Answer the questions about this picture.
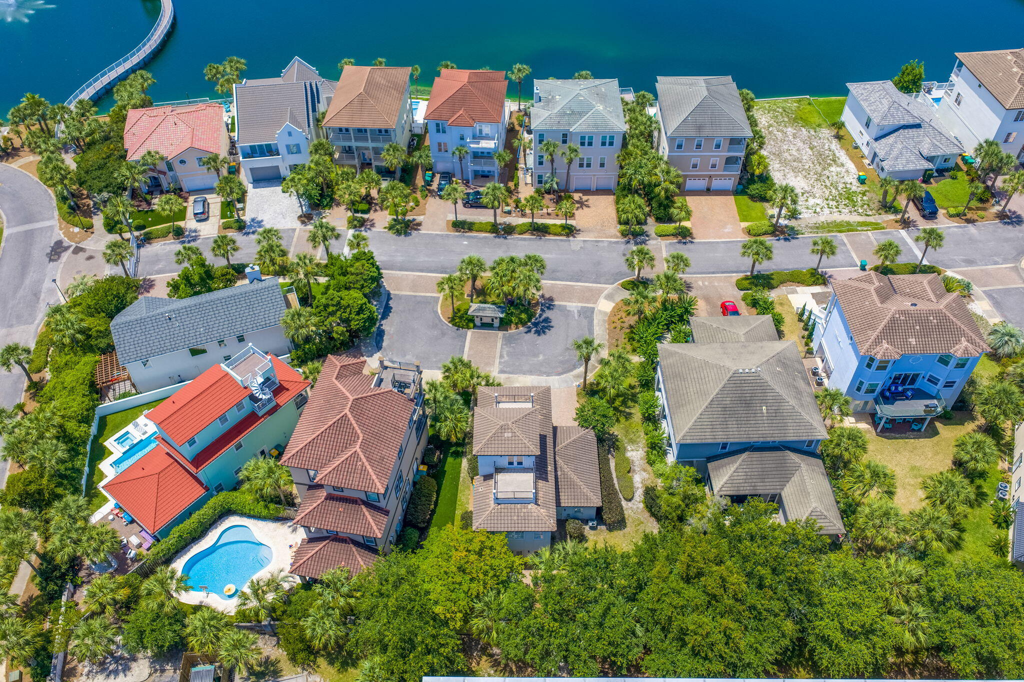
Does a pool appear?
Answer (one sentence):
Yes, a pool is visible in the scene.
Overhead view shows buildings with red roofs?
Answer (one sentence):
Yes, there's a building with a red roof down there.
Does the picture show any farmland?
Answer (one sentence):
No, the scene doesn't show any farmland.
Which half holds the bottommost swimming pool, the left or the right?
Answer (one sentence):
The bottommost swimming pool appears in the left half of the scene.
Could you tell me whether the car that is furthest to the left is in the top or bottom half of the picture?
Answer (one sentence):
You can find the car that is furthest to the left in the top half.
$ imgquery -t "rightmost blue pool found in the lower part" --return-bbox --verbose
[175,520,277,604]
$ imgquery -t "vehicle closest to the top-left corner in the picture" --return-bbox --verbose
[188,197,212,221]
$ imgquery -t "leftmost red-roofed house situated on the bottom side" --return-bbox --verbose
[100,335,313,538]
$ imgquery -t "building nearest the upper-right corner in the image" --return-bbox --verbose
[939,50,1024,164]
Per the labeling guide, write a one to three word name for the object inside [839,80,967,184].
house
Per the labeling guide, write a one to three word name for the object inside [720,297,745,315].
car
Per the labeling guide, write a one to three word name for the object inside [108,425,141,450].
swimming pool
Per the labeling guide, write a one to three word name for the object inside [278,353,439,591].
house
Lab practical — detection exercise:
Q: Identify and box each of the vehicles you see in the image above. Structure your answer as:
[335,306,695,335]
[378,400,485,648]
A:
[378,170,395,195]
[188,197,212,221]
[912,190,942,221]
[435,171,453,198]
[720,297,745,315]
[462,190,500,210]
